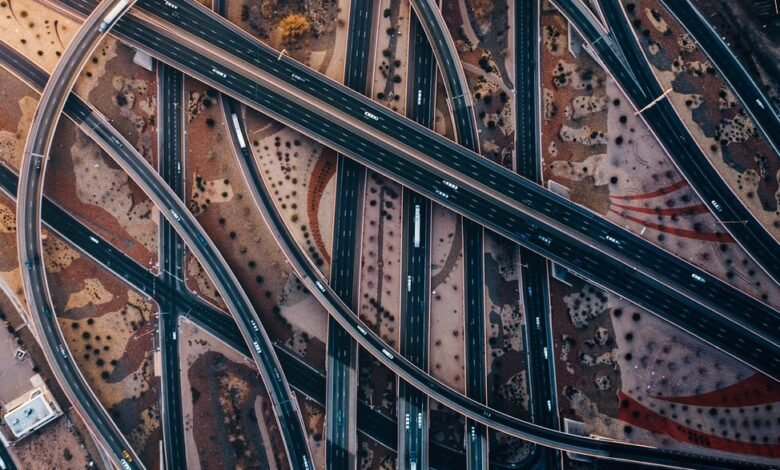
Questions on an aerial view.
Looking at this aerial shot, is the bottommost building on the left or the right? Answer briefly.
left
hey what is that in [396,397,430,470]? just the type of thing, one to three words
bridge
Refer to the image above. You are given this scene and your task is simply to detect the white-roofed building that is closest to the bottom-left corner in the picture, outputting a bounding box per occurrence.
[0,372,64,443]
